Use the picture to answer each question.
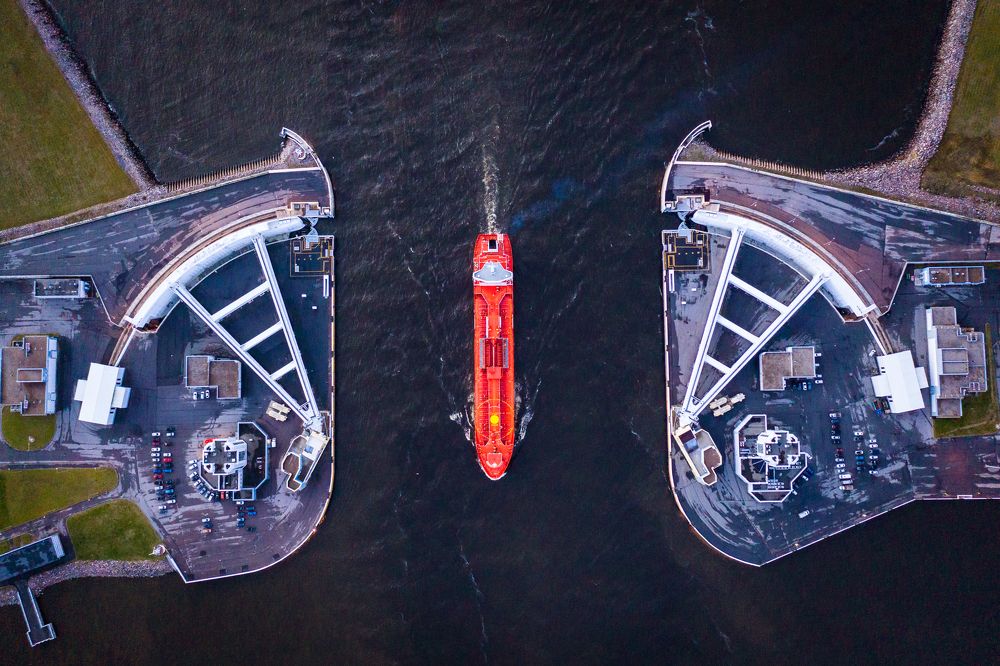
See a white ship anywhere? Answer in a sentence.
No, there's no white ship here.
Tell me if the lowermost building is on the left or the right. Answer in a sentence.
The lowermost building is on the left side of the image.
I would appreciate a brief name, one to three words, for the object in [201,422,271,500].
building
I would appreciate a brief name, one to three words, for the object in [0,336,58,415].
building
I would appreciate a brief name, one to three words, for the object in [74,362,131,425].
house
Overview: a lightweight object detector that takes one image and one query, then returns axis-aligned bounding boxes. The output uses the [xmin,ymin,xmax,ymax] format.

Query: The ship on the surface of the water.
[473,234,515,479]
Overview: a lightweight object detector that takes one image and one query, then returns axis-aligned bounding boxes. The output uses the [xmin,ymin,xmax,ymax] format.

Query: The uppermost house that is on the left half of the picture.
[277,202,321,218]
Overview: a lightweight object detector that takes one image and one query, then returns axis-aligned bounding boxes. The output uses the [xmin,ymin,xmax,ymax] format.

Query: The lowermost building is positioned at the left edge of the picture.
[0,533,65,584]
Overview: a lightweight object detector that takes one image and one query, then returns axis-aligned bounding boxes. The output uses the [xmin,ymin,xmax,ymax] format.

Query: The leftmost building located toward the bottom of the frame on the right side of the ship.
[672,424,721,486]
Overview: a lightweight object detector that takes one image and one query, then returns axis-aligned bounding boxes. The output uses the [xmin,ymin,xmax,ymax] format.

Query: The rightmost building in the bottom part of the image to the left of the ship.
[281,431,332,490]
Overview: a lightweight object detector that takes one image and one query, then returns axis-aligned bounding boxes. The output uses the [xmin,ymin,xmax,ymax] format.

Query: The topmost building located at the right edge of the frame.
[914,267,984,287]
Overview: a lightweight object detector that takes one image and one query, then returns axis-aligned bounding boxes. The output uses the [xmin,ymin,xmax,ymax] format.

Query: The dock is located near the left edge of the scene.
[17,585,58,647]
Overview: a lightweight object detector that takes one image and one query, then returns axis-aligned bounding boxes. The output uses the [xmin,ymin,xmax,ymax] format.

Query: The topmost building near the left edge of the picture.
[34,280,89,298]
